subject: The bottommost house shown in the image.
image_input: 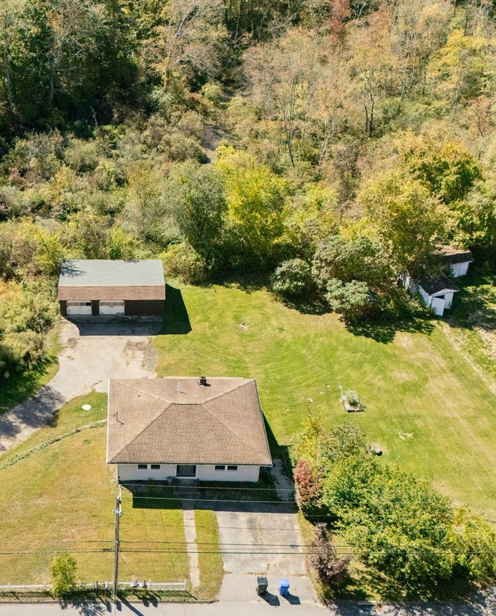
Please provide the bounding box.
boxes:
[104,375,273,497]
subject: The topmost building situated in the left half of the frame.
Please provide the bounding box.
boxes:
[58,260,166,317]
